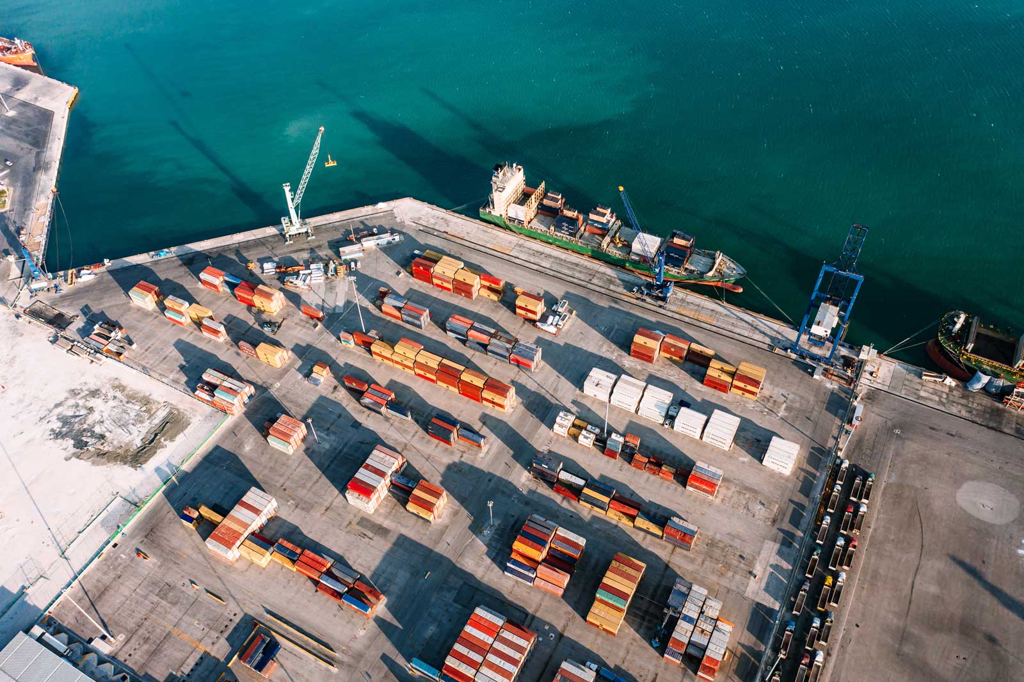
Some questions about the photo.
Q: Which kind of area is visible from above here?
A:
port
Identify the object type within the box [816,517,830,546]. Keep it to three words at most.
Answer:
vehicle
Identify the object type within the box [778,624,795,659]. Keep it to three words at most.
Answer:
vehicle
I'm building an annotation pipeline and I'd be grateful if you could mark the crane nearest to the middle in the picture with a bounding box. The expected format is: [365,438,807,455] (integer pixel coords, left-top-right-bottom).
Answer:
[617,186,677,310]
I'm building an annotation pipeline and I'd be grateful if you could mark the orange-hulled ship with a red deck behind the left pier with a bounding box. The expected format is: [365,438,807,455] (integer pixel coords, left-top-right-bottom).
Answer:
[0,39,42,67]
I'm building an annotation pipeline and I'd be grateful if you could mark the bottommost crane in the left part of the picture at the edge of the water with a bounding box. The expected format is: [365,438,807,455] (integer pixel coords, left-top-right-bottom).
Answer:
[0,247,66,297]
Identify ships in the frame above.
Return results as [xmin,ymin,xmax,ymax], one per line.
[0,39,42,67]
[922,304,1024,396]
[482,161,746,293]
